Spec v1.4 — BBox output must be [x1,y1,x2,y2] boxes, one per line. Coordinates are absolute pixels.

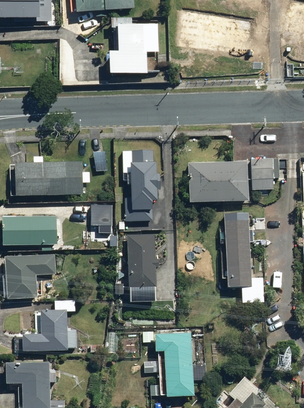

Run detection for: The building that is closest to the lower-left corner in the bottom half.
[6,362,64,408]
